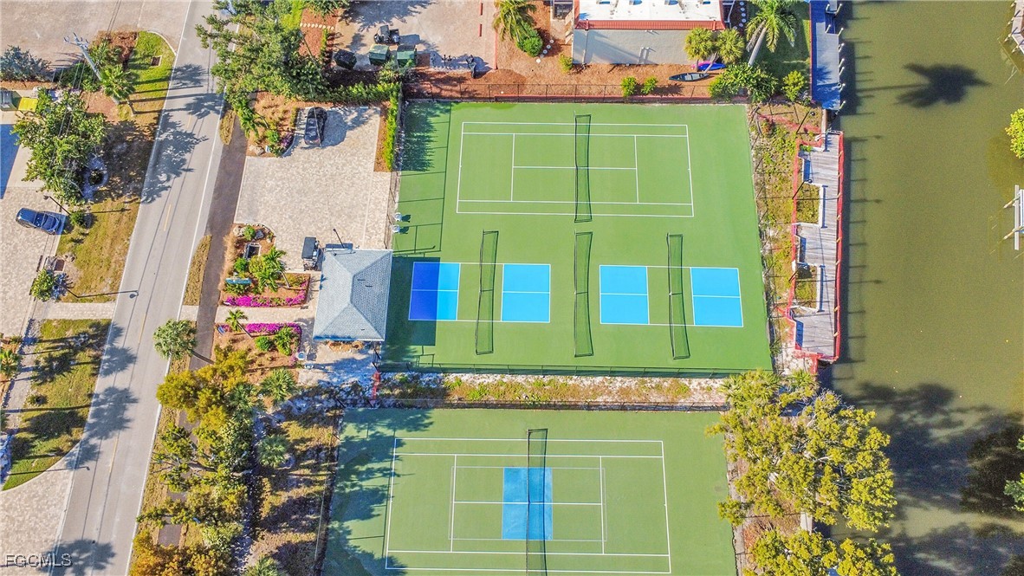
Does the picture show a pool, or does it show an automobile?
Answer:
automobile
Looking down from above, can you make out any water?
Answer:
Yes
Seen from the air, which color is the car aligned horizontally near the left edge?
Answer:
blue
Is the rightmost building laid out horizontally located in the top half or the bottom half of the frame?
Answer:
top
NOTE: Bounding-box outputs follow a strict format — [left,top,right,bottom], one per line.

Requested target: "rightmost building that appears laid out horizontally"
[565,0,727,65]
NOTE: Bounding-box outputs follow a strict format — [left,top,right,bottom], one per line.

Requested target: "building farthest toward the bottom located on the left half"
[314,250,394,346]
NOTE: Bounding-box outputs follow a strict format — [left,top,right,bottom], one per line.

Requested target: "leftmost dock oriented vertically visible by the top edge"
[809,0,846,118]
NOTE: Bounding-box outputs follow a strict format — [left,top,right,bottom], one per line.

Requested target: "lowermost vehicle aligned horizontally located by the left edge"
[11,210,61,235]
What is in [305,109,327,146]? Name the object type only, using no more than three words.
car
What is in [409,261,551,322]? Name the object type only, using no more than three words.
sports court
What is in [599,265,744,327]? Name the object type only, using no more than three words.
sports court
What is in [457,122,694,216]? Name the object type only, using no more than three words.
tennis court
